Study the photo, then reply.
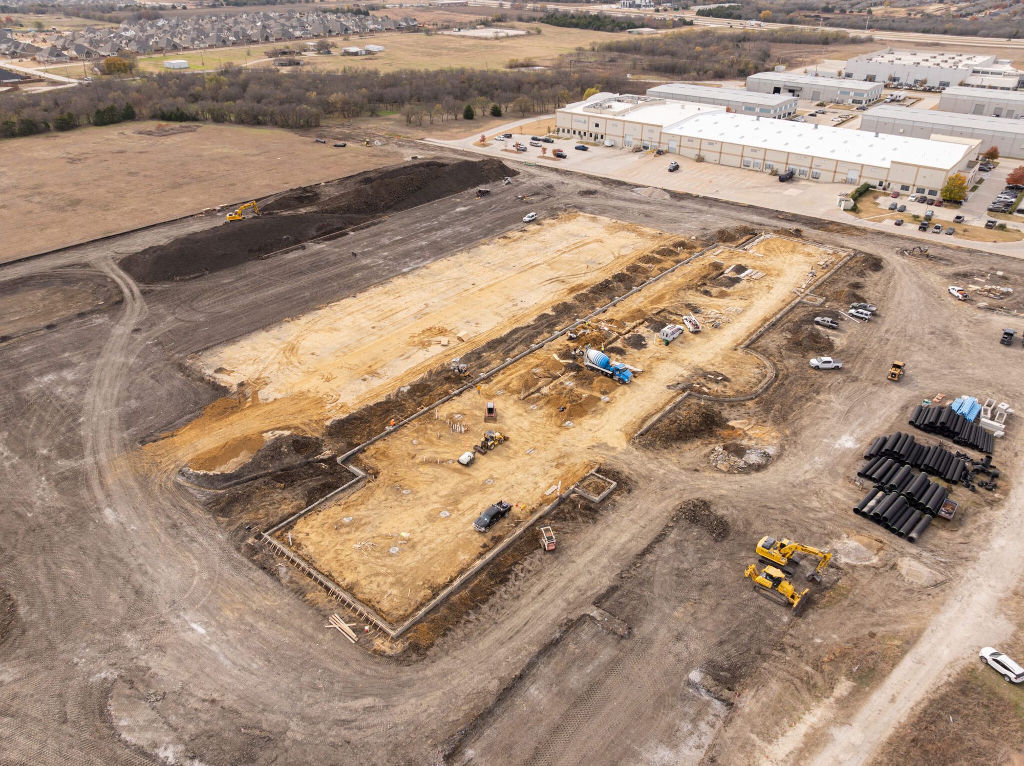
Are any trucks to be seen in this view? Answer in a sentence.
Yes, the image includes a truck.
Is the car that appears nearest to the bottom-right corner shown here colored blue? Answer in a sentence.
No, the color of the car that appears nearest to the bottom-right corner is white.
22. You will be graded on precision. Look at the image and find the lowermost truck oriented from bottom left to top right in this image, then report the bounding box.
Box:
[472,495,515,528]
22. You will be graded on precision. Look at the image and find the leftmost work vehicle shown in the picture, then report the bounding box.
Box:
[223,191,264,223]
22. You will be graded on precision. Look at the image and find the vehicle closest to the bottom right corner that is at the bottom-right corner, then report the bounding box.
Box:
[978,645,1024,685]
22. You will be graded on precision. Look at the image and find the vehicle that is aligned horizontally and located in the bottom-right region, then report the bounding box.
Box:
[755,535,840,588]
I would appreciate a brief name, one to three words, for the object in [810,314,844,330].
vehicle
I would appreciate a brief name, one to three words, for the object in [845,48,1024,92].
building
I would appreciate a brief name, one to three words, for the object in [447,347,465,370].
work vehicle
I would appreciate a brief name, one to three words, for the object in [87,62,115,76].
house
